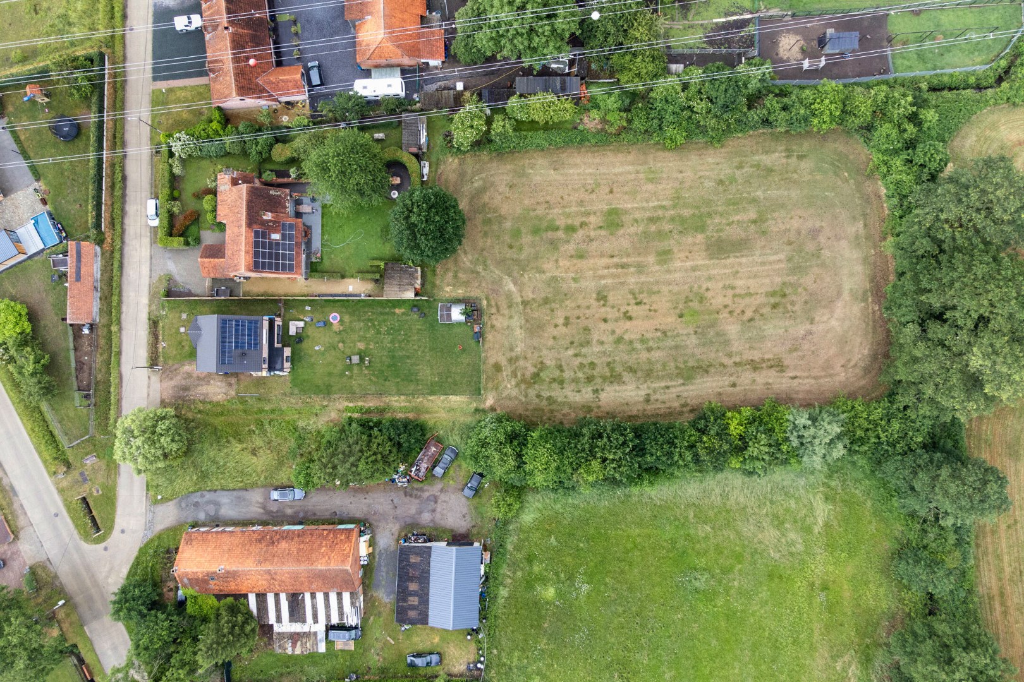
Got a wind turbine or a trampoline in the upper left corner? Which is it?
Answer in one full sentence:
The feature located in the upper left corner is a trampoline.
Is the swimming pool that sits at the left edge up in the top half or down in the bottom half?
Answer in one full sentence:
The swimming pool that sits at the left edge is in the top half of the image.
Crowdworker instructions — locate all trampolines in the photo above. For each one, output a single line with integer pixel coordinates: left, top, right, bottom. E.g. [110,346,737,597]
[41,111,78,142]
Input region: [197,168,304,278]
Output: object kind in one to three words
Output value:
house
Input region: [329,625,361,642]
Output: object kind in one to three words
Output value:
car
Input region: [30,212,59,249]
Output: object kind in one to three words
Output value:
swimming pool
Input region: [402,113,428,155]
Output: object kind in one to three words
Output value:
shed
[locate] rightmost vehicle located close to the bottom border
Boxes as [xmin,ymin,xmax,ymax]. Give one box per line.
[407,652,440,668]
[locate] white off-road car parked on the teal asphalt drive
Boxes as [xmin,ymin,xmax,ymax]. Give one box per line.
[173,15,203,32]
